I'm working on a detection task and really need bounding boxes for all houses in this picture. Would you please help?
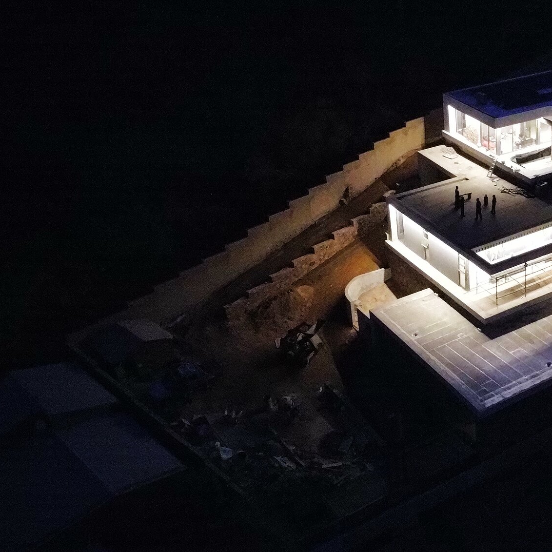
[370,70,552,453]
[11,410,191,552]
